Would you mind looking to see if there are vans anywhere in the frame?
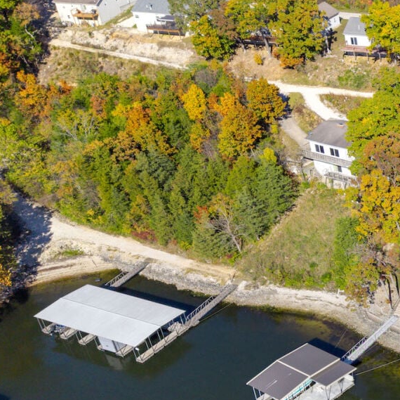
No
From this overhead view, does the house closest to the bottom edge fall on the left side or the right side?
right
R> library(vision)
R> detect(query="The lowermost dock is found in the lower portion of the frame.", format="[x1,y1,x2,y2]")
[246,343,356,400]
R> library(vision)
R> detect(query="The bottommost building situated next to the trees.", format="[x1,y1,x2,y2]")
[296,126,383,191]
